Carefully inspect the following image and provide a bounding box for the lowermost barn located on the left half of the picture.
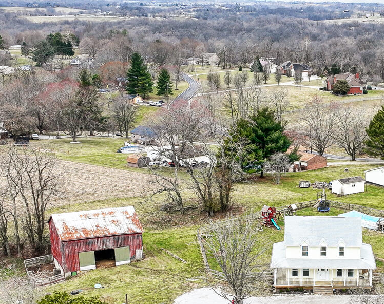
[44,205,147,277]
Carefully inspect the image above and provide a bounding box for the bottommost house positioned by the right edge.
[271,216,376,295]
